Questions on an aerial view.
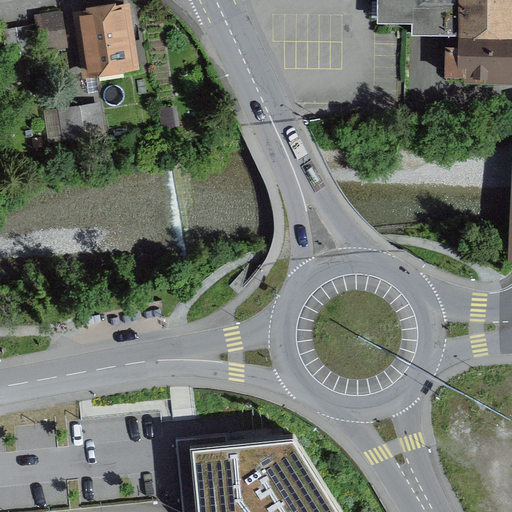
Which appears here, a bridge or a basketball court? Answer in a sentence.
The image shows a bridge.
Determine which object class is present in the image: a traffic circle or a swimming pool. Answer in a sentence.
There is a traffic circle in the scene.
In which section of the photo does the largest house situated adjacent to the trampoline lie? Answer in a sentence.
Look in the top left portion of the view to spot the largest house situated adjacent to the trampoline.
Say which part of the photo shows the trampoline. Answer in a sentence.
Look in the top left portion of the view to spot the trampoline.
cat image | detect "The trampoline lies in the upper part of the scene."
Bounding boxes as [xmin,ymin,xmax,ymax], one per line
[104,84,124,106]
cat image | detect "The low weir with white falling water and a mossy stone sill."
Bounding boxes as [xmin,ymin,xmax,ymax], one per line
[166,170,197,262]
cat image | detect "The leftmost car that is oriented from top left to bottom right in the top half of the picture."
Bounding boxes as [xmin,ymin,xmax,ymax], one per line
[248,100,266,121]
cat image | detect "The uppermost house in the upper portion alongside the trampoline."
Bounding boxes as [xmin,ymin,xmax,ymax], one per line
[74,4,139,80]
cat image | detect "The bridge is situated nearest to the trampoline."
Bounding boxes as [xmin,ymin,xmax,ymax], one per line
[236,112,390,294]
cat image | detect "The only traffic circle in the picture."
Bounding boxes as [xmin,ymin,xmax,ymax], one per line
[270,248,445,422]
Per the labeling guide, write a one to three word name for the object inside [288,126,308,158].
truck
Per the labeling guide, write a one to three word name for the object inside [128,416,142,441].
vehicle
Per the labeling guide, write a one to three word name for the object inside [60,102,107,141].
building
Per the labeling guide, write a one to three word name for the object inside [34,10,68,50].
shed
